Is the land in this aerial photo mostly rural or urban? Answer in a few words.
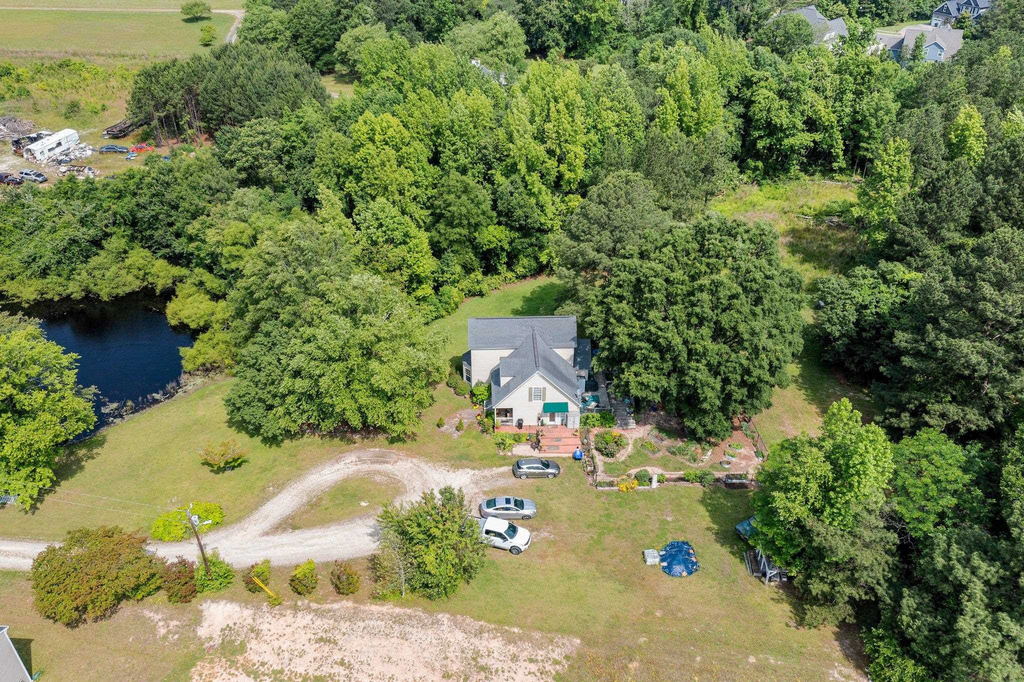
rural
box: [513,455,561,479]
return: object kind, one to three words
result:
car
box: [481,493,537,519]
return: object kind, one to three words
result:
car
